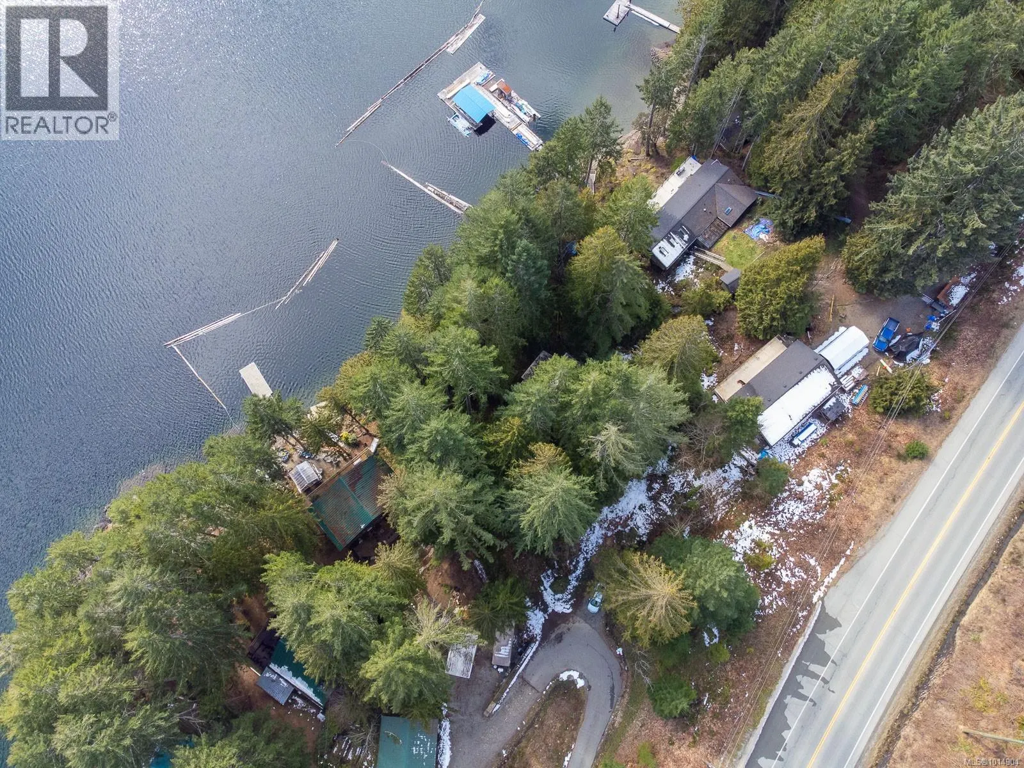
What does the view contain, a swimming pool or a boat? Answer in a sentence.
The image shows a boat.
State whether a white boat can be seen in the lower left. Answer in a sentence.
No, I see no white boat in the lower left.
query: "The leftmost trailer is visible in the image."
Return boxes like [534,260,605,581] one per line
[492,627,513,677]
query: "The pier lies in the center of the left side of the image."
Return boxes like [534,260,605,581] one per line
[239,360,273,398]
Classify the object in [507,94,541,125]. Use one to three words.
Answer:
boat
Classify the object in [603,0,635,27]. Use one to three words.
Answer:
pier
